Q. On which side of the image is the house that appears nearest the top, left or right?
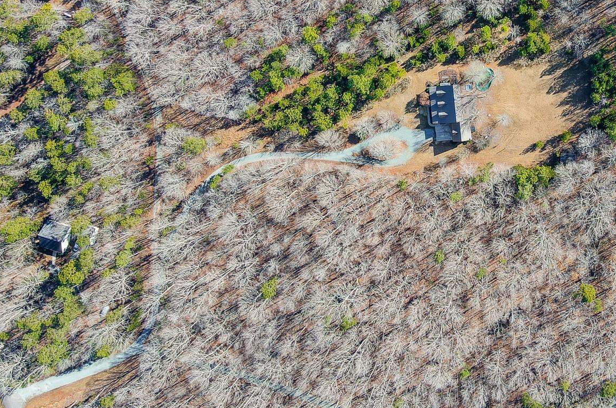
right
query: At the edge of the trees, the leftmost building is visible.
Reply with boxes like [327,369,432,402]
[38,218,77,254]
